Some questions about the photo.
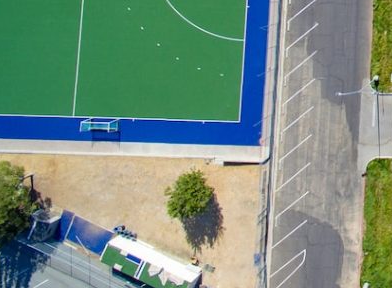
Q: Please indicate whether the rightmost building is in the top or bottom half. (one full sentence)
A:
The rightmost building sits in the bottom half of the picture.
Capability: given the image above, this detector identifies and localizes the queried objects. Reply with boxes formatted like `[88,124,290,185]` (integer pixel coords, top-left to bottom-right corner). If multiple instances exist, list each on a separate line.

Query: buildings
[18,204,64,247]
[99,236,205,288]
